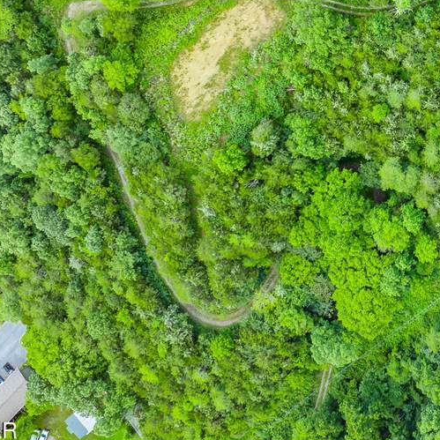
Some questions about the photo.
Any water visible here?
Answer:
No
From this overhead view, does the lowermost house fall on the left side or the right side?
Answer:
left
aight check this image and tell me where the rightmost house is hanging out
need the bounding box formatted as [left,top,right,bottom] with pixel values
[62,407,96,440]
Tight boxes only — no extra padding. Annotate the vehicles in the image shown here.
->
[0,359,13,375]
[30,430,40,440]
[39,429,50,440]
